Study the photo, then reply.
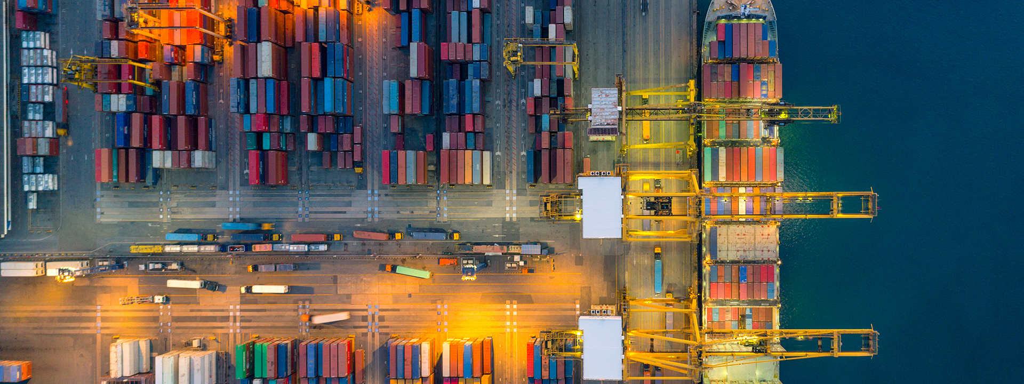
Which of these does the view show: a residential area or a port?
port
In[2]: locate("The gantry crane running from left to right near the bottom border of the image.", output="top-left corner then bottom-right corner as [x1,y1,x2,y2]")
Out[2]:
[540,277,880,384]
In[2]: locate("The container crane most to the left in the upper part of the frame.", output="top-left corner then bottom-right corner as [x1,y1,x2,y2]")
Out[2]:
[61,53,159,95]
